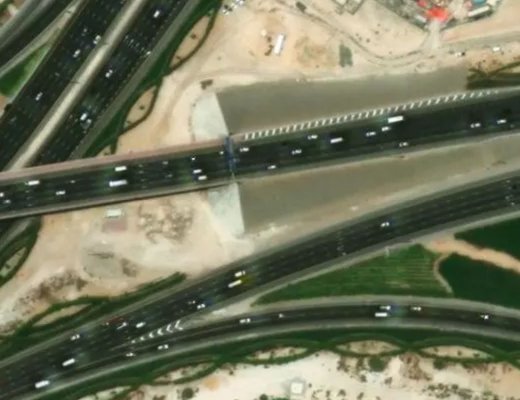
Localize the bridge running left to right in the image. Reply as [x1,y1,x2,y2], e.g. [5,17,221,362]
[0,135,231,219]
